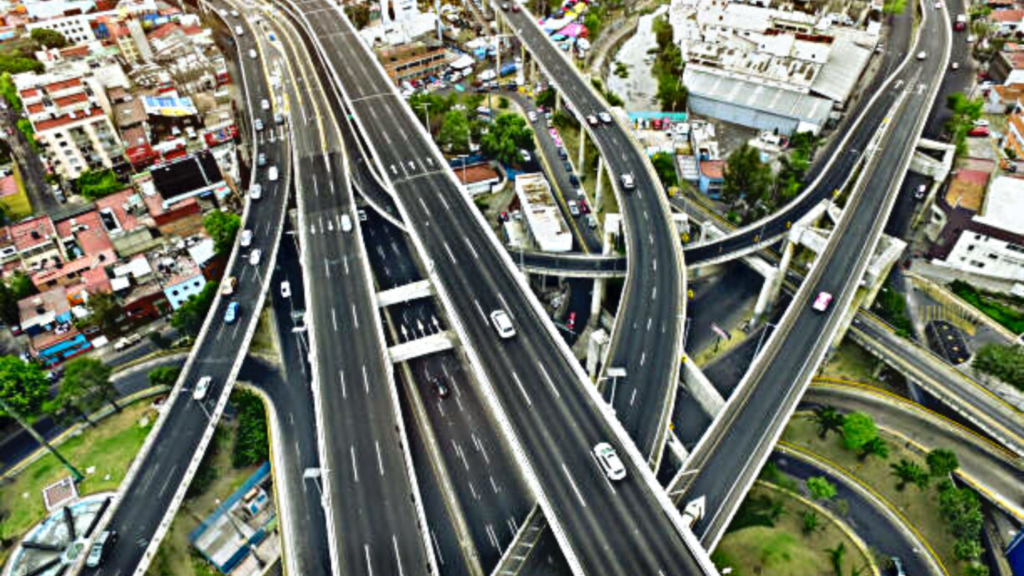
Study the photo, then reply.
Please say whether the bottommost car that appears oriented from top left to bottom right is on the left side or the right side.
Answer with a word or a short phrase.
right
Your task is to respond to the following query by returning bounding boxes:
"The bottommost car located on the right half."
[880,543,914,576]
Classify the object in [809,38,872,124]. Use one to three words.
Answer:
shed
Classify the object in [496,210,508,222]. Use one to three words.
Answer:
vehicle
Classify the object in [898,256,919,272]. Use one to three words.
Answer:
car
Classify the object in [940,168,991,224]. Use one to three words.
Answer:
house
